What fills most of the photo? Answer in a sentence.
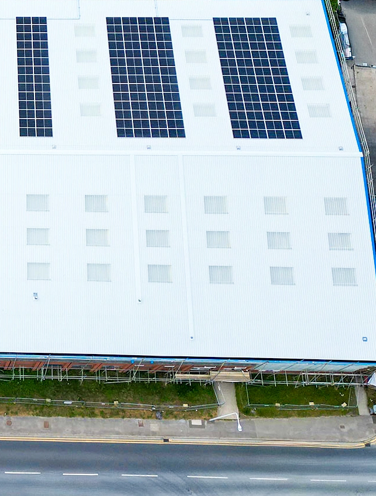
The largest share of the image is taken up by buildings.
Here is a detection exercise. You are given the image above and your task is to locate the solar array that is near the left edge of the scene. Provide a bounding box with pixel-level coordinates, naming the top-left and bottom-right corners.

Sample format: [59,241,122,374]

[16,16,53,137]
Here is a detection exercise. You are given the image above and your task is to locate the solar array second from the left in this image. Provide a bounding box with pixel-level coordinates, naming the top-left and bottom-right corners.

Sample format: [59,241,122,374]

[107,17,186,139]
